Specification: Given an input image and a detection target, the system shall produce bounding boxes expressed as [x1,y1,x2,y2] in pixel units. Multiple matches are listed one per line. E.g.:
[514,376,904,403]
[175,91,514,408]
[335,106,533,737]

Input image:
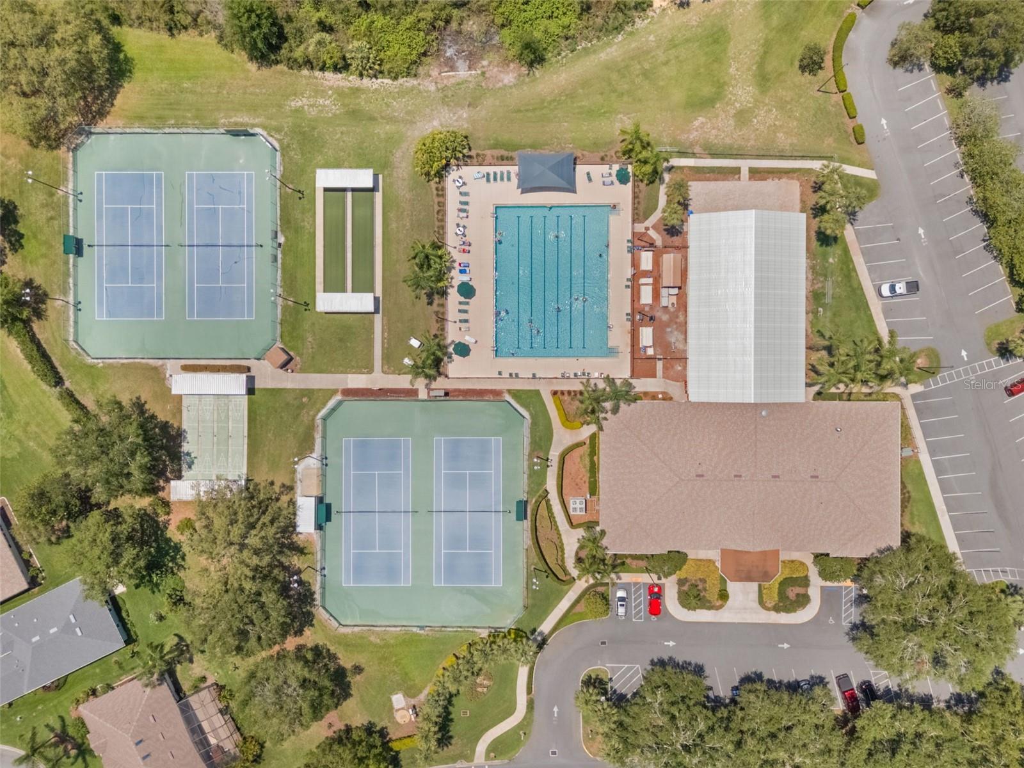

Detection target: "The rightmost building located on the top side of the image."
[682,209,806,403]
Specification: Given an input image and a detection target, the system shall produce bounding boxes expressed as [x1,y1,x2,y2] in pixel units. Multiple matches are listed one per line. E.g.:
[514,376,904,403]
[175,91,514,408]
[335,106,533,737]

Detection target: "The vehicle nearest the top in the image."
[880,279,922,296]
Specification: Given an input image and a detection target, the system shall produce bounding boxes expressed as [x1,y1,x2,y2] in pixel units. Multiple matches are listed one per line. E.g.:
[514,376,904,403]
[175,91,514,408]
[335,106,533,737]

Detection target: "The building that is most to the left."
[0,517,35,600]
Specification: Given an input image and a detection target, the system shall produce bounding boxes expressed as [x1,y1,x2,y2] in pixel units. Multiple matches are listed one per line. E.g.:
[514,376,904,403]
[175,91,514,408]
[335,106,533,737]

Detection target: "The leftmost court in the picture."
[78,134,175,358]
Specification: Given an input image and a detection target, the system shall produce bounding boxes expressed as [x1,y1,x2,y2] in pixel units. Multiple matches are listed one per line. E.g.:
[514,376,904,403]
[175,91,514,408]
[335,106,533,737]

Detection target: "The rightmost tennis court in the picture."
[422,401,524,625]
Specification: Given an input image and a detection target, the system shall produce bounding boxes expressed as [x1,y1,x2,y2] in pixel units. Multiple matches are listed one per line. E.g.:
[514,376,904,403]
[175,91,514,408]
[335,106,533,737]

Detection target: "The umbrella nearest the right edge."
[615,168,631,184]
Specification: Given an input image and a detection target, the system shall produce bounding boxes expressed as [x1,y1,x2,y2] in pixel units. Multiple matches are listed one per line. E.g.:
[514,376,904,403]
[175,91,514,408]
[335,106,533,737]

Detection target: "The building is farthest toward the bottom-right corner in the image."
[599,401,901,583]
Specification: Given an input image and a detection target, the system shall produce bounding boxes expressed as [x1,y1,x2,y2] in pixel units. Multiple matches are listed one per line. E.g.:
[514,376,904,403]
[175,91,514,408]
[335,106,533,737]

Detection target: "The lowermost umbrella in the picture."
[453,340,471,358]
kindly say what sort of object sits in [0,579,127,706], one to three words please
house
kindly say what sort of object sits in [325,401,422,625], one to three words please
tennis court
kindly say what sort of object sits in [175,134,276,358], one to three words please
tennis court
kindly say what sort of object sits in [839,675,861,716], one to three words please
truck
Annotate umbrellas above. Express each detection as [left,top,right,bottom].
[453,340,471,358]
[615,168,631,184]
[457,281,476,300]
